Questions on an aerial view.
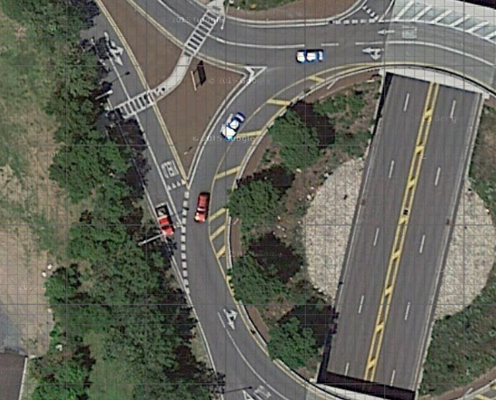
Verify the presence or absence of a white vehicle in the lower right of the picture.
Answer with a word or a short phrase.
No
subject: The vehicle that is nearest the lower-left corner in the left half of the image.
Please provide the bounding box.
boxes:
[156,203,175,233]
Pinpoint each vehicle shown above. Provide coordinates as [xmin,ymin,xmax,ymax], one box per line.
[156,203,175,233]
[222,111,246,139]
[296,50,322,62]
[195,192,209,223]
